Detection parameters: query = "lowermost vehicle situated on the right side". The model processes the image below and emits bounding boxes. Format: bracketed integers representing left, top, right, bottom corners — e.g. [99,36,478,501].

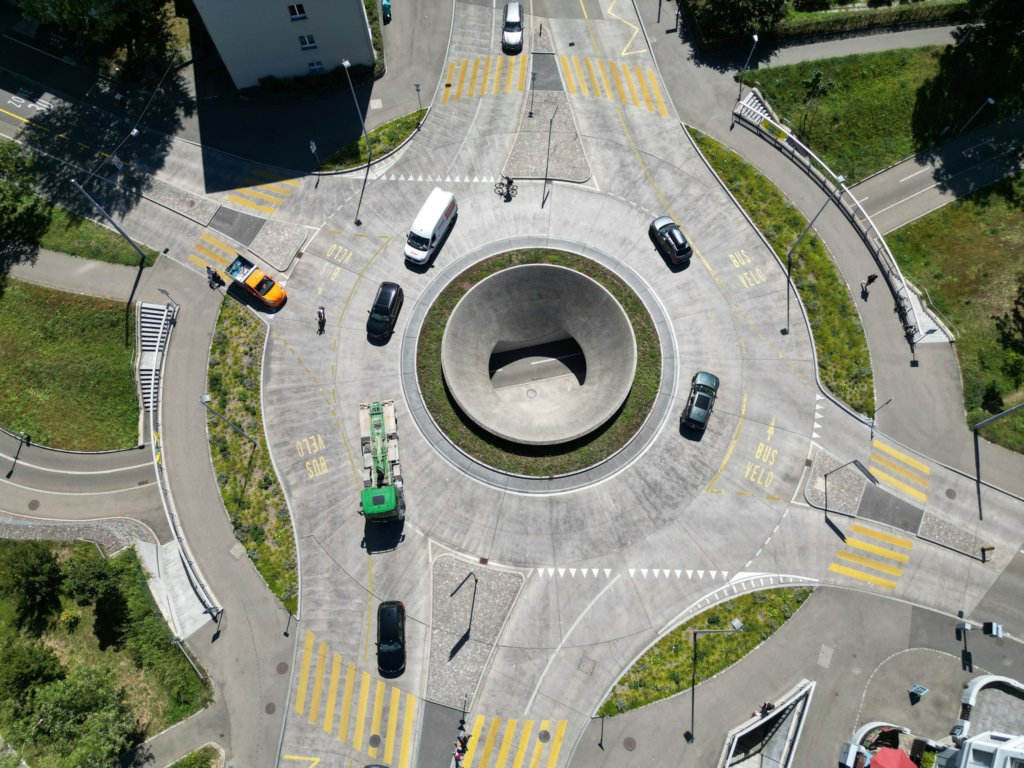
[682,373,718,429]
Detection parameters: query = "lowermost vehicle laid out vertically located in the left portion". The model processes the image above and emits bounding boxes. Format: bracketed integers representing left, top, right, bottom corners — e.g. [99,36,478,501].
[374,601,407,675]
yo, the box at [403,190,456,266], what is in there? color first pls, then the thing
white van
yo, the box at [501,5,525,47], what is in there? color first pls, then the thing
white car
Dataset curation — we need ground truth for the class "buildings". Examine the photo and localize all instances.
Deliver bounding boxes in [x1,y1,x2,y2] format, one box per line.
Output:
[197,0,375,88]
[921,728,1024,768]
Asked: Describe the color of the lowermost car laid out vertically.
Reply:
black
